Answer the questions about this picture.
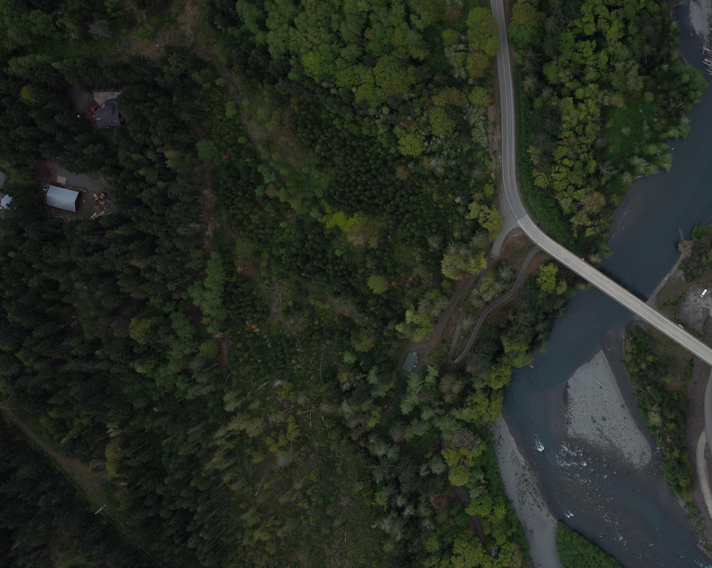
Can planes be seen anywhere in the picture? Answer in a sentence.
No, no plane is visible in the view.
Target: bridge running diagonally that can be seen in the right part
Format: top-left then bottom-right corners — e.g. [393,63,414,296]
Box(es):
[518,213,712,367]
